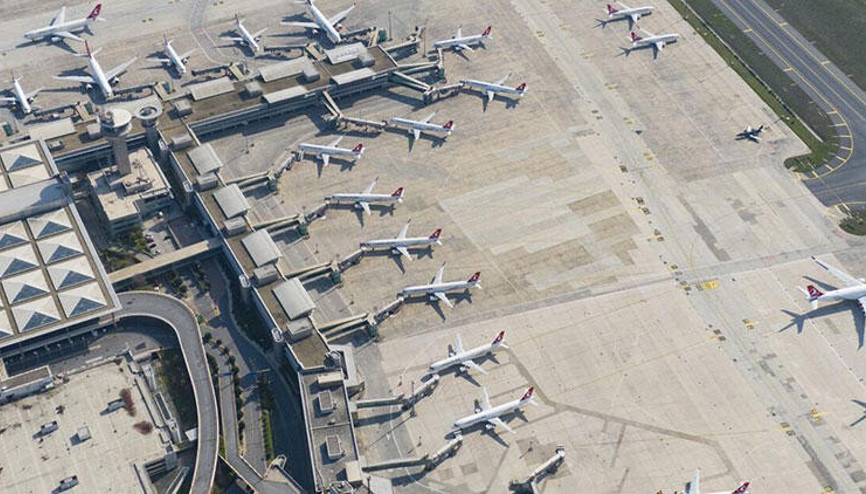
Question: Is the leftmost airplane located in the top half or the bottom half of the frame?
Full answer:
The top half of the photo is where the leftmost airplane is.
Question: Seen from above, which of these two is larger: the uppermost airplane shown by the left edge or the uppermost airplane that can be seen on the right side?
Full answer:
Compared with the uppermost airplane that can be seen on the right side, the uppermost airplane shown by the left edge is the bigger one.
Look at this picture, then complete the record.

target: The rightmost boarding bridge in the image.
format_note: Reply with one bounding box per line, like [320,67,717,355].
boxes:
[521,449,567,494]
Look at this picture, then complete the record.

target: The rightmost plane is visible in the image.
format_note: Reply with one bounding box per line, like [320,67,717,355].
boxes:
[796,255,866,319]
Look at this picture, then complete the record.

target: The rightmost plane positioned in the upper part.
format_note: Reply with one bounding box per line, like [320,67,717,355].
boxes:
[735,123,764,140]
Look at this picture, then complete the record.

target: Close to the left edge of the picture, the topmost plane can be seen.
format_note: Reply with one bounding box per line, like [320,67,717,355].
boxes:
[25,6,104,43]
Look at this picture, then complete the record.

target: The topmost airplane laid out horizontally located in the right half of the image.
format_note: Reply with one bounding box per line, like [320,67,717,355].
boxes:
[606,1,654,25]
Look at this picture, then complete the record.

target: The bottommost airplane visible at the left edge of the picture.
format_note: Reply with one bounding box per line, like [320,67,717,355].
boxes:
[0,73,48,113]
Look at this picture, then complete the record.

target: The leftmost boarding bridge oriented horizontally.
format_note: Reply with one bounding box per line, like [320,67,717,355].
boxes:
[30,102,88,122]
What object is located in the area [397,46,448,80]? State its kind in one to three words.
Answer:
jet bridge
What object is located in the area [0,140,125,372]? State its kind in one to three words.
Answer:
building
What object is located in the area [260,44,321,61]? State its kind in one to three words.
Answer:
jet bridge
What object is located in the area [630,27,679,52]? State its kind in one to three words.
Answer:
airplane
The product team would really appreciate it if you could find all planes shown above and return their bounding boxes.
[362,217,441,263]
[390,109,456,141]
[0,73,48,113]
[630,27,679,52]
[465,72,528,102]
[332,176,404,216]
[52,42,139,99]
[299,133,364,167]
[735,123,764,140]
[433,25,493,53]
[279,0,358,44]
[452,388,538,435]
[402,262,481,309]
[220,14,270,52]
[25,6,104,43]
[606,1,654,25]
[430,332,509,376]
[796,255,866,319]
[147,35,199,74]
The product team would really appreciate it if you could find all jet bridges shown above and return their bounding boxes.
[188,63,244,82]
[260,44,321,61]
[355,372,445,414]
[285,246,368,289]
[382,25,427,58]
[387,72,468,108]
[109,82,167,102]
[521,449,567,494]
[322,92,391,134]
[397,46,448,80]
[251,200,334,241]
[224,151,301,198]
[316,294,408,348]
[360,432,467,476]
[336,27,380,47]
[30,102,88,122]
